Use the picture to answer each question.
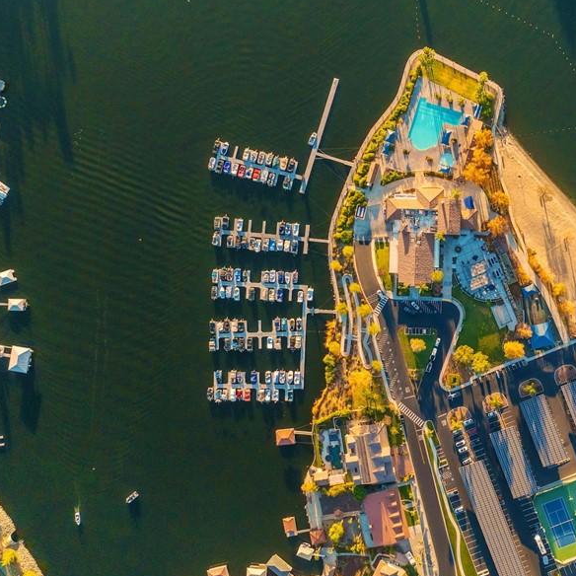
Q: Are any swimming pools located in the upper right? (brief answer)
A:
Yes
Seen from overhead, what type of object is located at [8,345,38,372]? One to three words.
building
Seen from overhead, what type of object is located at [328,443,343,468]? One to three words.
swimming pool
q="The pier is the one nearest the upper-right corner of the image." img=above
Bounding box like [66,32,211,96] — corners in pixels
[300,77,353,193]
